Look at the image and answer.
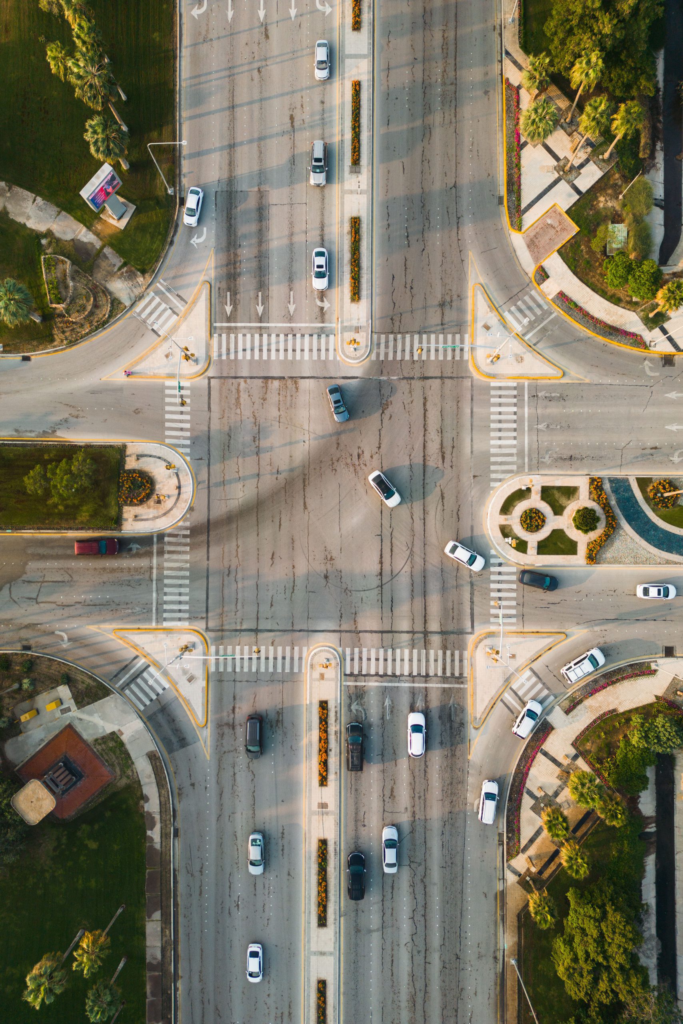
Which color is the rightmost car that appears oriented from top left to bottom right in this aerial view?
white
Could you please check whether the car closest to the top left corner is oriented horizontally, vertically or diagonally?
vertically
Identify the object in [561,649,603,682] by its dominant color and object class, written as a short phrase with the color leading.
white car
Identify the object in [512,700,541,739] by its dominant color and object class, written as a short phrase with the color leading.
white car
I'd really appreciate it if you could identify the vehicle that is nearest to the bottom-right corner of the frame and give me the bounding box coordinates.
[478,780,500,824]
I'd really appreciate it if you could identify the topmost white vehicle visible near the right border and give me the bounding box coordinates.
[635,583,676,601]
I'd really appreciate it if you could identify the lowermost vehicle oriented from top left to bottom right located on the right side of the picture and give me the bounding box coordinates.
[445,541,483,570]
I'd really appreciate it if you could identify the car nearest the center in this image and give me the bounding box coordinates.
[370,469,399,509]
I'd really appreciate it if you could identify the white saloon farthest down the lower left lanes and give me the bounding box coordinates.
[245,943,264,982]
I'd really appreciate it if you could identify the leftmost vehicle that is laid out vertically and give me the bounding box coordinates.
[183,187,204,228]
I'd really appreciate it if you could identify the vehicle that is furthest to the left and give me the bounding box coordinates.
[75,537,120,556]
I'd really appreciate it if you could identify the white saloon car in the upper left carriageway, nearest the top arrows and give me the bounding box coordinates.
[313,40,331,82]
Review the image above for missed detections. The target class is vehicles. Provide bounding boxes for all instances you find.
[345,721,364,771]
[309,140,328,187]
[244,714,263,758]
[478,780,500,824]
[247,832,265,873]
[445,541,483,570]
[561,649,603,682]
[370,469,399,509]
[326,383,350,424]
[313,40,331,82]
[407,713,426,756]
[245,943,264,982]
[183,187,204,228]
[75,537,120,556]
[311,248,330,291]
[512,700,541,739]
[635,583,676,601]
[381,825,400,872]
[518,570,559,591]
[346,852,366,901]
